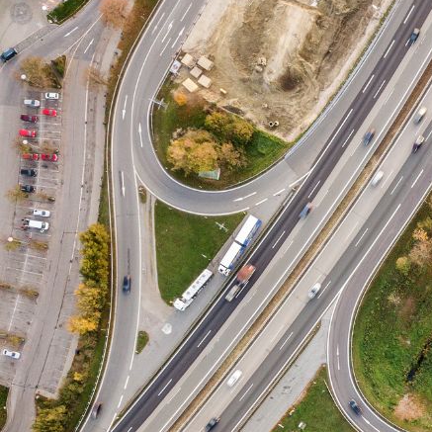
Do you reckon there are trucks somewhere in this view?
Yes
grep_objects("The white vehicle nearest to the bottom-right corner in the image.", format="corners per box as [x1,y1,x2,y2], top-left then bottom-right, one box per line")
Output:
[306,283,320,298]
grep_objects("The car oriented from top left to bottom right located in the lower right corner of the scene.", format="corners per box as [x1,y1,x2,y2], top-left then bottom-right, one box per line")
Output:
[347,400,361,415]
